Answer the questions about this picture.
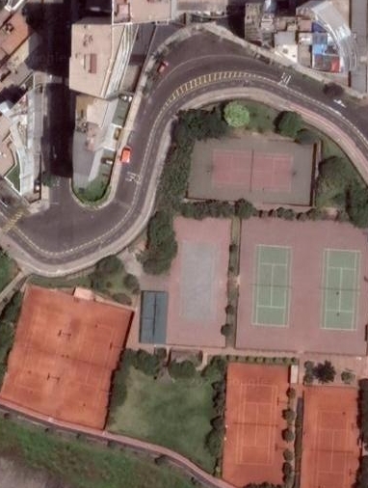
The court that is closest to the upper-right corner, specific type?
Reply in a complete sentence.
What you see as the court that is closest to the upper-right corner is a tennis court.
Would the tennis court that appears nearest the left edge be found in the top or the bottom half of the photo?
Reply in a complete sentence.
The bottom half of the photo is where the tennis court that appears nearest the left edge is.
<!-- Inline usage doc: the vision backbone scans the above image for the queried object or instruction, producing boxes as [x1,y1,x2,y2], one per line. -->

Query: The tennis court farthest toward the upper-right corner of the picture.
[187,138,312,207]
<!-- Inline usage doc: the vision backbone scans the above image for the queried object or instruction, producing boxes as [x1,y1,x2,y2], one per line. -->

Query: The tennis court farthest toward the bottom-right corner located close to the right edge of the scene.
[299,385,357,488]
